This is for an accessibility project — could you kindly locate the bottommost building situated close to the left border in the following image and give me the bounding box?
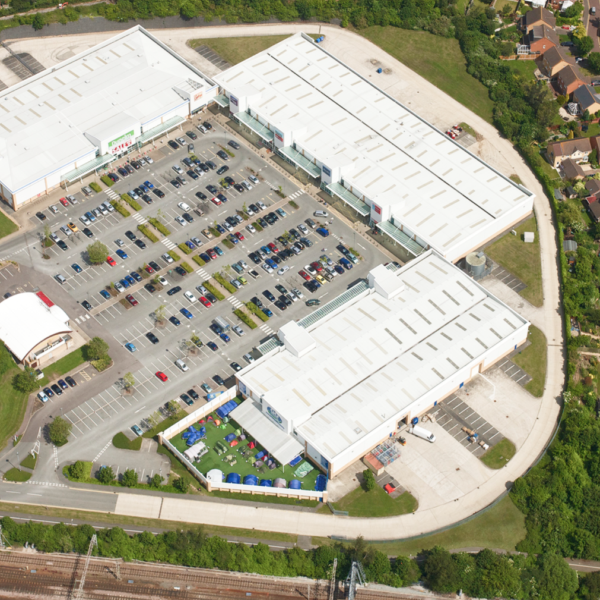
[0,290,73,367]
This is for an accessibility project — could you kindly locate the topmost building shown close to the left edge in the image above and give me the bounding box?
[0,24,219,210]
